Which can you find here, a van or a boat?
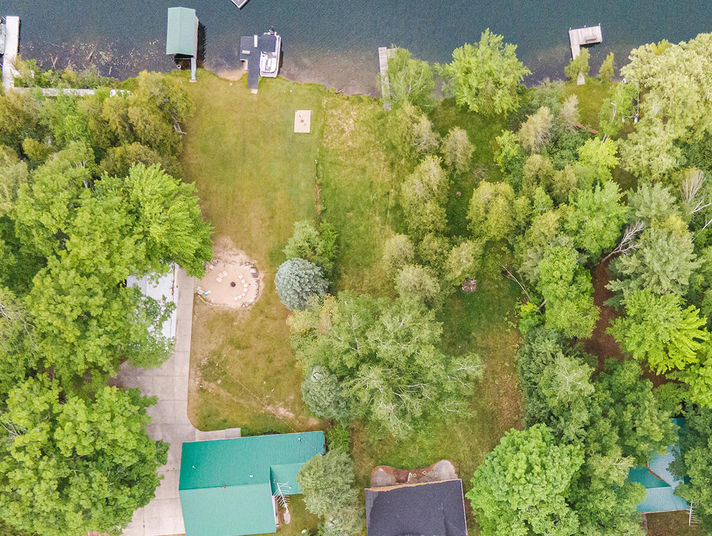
boat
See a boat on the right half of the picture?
No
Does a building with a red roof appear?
No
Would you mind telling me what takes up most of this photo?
trees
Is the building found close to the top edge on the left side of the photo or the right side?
left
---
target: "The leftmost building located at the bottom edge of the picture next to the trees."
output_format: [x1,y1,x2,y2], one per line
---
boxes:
[179,431,330,536]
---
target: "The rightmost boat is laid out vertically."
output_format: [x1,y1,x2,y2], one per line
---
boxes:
[258,27,282,80]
